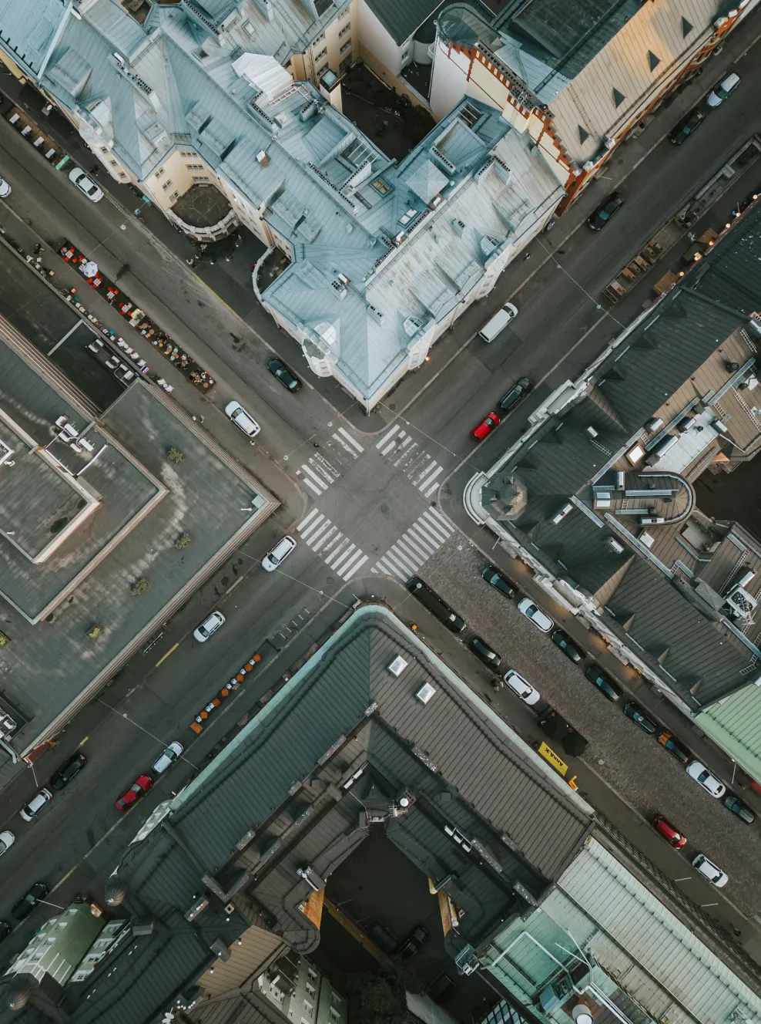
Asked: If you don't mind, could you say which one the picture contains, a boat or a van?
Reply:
van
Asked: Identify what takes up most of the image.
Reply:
buildings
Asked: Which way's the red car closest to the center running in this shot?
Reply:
diagonally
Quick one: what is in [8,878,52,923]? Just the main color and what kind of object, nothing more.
black car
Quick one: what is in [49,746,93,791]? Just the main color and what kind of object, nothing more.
black car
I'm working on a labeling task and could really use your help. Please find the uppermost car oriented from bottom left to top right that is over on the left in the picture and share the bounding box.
[258,531,301,574]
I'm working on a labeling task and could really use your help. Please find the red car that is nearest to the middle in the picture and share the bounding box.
[469,410,502,443]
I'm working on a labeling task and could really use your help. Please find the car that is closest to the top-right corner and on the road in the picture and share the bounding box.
[702,69,745,113]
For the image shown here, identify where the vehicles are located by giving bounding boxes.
[258,531,301,574]
[8,878,52,923]
[190,605,229,645]
[654,727,694,766]
[146,737,188,779]
[620,697,661,737]
[581,661,626,704]
[65,163,107,208]
[649,812,689,851]
[685,758,727,799]
[547,627,587,666]
[403,574,469,636]
[467,634,503,670]
[702,69,745,113]
[494,375,534,416]
[720,789,759,827]
[476,301,520,346]
[478,561,522,604]
[394,919,435,963]
[687,847,731,890]
[362,914,402,957]
[264,353,306,395]
[666,105,709,149]
[112,771,155,814]
[222,397,266,441]
[469,410,502,443]
[514,595,557,636]
[16,782,57,824]
[49,746,93,791]
[499,665,543,707]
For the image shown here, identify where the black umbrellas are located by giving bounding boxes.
[558,728,590,759]
[539,710,573,744]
